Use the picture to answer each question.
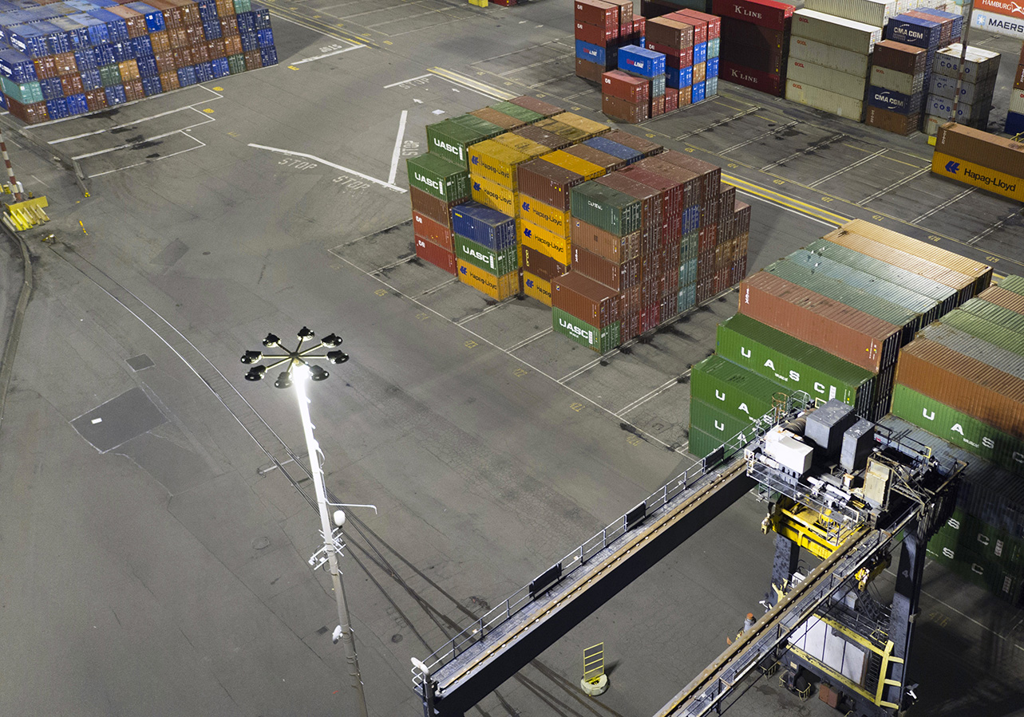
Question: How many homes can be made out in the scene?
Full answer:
I count no homes.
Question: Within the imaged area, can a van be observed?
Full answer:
No, I can't see a single van in this photo.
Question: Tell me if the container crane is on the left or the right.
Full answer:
The container crane sits on the right side.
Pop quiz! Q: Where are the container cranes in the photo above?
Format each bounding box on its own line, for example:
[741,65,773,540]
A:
[378,379,979,717]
